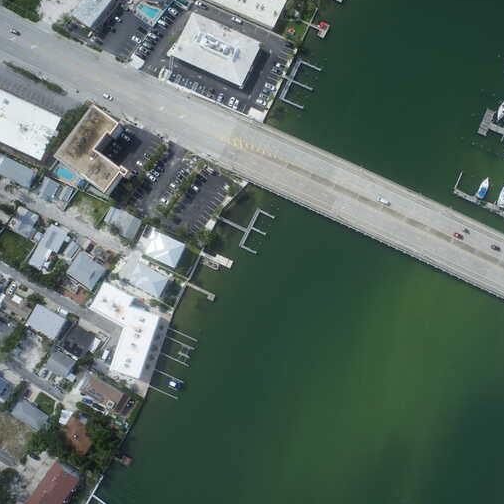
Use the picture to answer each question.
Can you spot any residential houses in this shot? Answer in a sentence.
Yes, there's a residential house down there.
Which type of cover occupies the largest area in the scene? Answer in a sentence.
The scene is dominated by water.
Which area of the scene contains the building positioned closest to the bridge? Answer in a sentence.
The building positioned closest to the bridge sits in the top section of the image.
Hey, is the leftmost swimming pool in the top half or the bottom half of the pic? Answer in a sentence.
Seen from above, the leftmost swimming pool lies in the top half of the view.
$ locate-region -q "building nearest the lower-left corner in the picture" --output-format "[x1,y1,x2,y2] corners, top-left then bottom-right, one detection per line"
[28,460,80,504]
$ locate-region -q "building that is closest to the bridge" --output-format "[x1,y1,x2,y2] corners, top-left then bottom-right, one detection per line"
[167,12,260,88]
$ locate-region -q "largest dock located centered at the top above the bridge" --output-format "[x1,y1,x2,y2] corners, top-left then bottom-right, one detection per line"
[279,58,321,110]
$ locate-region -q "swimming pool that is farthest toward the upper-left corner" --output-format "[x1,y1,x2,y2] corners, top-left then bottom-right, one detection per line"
[133,0,166,25]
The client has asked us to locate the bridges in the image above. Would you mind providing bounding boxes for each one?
[211,109,504,297]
